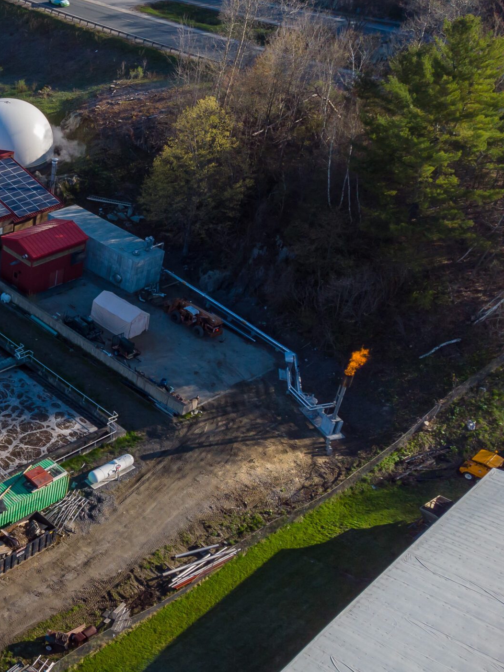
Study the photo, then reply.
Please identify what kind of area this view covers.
industrial area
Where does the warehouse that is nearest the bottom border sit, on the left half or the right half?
right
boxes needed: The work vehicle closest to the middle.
[158,295,223,336]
